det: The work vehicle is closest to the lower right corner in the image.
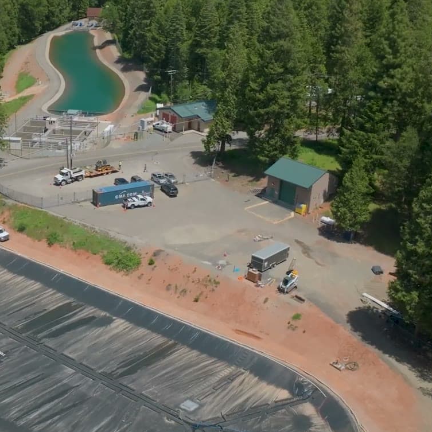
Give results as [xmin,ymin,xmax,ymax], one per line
[278,272,299,292]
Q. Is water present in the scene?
Yes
